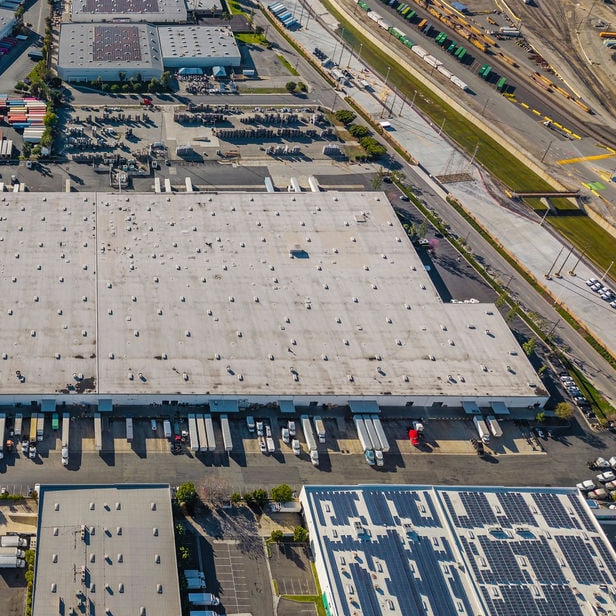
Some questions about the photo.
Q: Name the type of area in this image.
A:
industrial area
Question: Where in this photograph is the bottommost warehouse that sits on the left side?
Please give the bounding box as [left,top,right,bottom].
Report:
[31,483,182,616]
